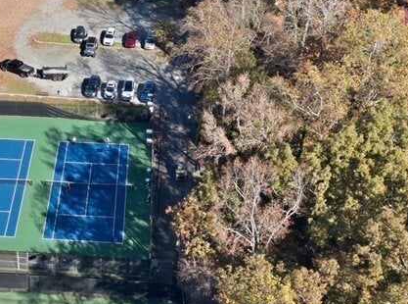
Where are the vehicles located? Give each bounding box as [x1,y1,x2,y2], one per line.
[142,83,156,102]
[104,29,118,45]
[84,77,100,98]
[104,83,118,99]
[85,38,99,56]
[144,36,156,49]
[0,61,32,78]
[121,80,135,100]
[125,31,138,48]
[74,26,87,42]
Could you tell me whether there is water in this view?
No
